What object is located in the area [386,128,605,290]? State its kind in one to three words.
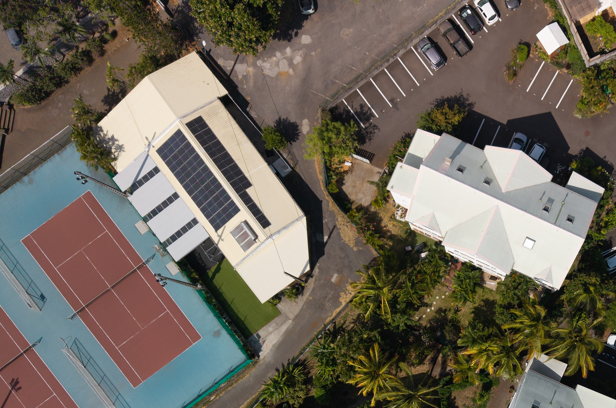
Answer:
building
